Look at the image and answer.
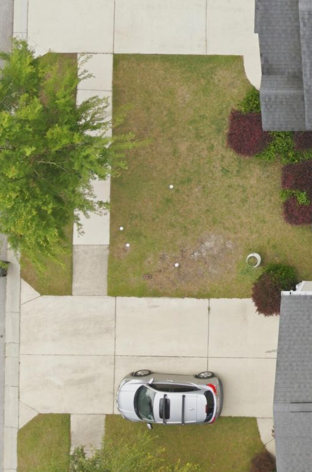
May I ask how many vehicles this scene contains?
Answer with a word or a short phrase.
1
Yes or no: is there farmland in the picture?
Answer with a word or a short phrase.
No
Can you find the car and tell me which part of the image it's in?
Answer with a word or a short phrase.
bottom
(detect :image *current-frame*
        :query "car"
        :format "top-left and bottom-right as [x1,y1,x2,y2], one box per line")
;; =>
[117,371,226,431]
